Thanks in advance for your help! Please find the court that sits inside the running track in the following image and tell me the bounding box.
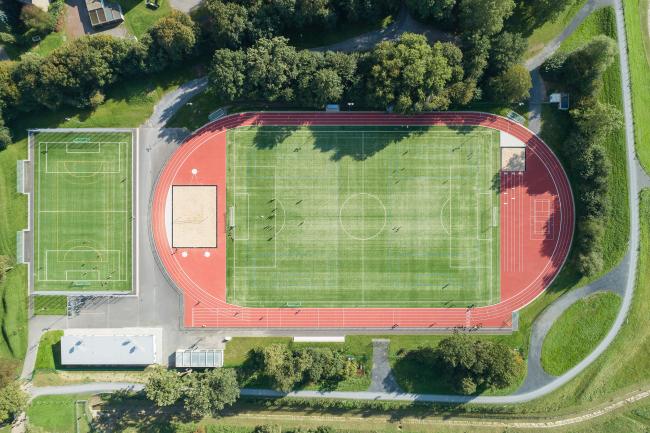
[529,194,554,241]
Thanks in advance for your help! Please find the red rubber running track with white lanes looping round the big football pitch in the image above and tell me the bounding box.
[150,111,576,328]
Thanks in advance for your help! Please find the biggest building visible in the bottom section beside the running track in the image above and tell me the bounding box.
[61,335,157,364]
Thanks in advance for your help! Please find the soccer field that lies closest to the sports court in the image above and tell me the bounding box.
[226,126,500,307]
